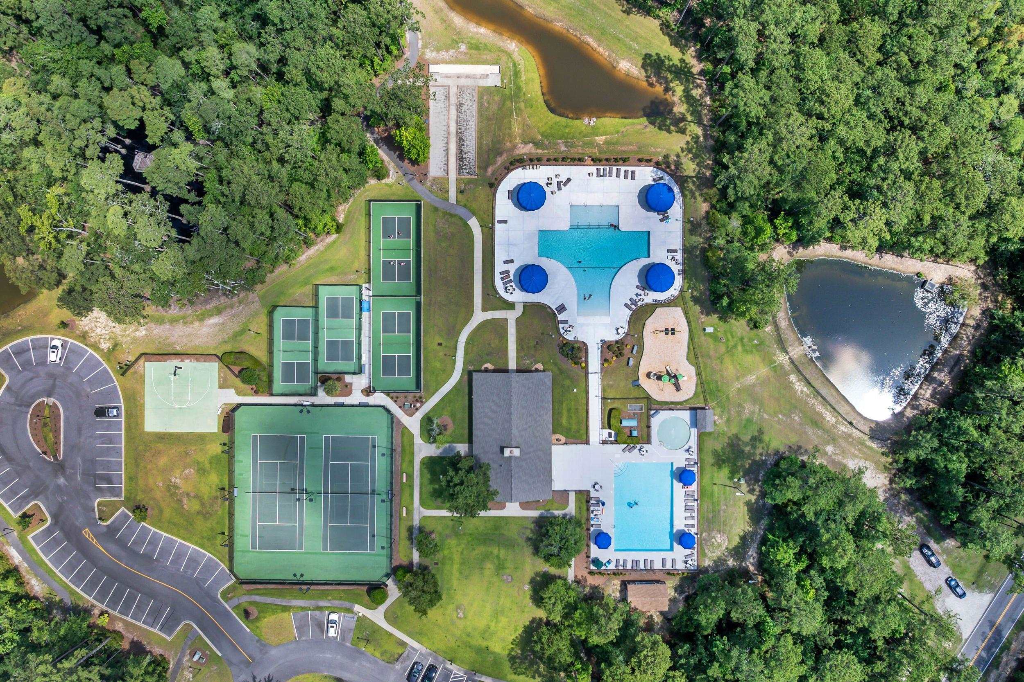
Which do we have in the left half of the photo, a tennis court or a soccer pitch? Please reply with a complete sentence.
Visible in the left half of the photo is a tennis court.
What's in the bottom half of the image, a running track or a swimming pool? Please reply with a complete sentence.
The one visible in the bottom half of the image is a swimming pool.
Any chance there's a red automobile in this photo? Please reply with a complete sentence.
No, there's no red automobile here.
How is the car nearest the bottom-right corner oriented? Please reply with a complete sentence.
The car nearest the bottom-right corner has been laid out at an angle relative to the frame.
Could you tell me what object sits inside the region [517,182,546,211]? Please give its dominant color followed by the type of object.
blue umbrella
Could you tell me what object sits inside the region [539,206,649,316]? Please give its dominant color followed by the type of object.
blue swimming pool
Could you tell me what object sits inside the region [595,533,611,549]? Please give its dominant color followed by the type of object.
blue umbrella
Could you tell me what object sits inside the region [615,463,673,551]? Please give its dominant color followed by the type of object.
blue swimming pool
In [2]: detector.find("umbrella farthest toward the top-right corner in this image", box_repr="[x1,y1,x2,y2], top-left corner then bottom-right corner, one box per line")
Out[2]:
[645,183,675,212]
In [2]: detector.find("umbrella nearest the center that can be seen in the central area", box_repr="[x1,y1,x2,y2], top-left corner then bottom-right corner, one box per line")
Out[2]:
[519,264,548,294]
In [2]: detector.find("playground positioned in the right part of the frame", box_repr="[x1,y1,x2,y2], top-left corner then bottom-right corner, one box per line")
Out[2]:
[639,308,696,401]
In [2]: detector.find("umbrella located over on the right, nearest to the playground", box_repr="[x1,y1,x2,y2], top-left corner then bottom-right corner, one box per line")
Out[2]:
[645,263,674,292]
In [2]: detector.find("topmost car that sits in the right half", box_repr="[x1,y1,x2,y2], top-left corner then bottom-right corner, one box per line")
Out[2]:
[920,544,939,569]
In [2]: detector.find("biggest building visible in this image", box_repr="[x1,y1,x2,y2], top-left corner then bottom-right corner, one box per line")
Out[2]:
[472,373,552,503]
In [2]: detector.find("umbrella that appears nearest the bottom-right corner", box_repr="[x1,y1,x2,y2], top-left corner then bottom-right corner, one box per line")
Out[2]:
[679,533,695,549]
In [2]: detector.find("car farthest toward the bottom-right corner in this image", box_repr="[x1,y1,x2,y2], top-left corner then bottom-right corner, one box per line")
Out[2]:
[944,576,965,599]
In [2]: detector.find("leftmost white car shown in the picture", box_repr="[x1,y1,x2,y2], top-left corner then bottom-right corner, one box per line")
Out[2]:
[50,339,64,363]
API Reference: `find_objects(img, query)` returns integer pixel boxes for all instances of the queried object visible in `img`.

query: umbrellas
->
[679,470,695,485]
[645,263,674,292]
[519,264,548,294]
[679,533,695,549]
[595,533,611,549]
[517,182,546,211]
[592,558,604,570]
[645,183,675,212]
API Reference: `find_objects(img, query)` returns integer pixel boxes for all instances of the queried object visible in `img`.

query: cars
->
[421,666,438,682]
[944,576,965,599]
[327,612,340,636]
[92,407,118,417]
[50,339,64,363]
[920,544,939,569]
[406,663,424,682]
